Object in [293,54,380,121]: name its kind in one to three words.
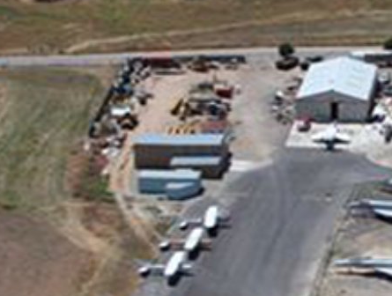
hangar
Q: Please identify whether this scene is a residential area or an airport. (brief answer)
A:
airport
